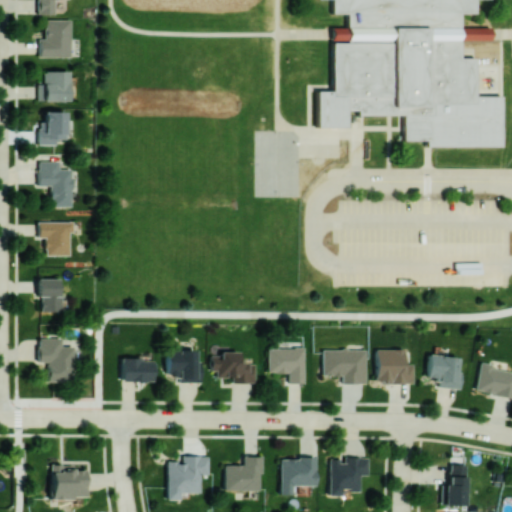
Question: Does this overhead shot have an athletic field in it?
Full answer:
Yes, there's an athletic field here.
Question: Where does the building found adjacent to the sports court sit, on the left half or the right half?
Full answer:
The building found adjacent to the sports court is on the right side of the image.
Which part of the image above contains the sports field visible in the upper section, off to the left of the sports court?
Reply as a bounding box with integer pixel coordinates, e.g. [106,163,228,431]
[106,40,253,305]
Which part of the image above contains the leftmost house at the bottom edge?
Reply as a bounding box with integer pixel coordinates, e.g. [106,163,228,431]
[51,465,93,500]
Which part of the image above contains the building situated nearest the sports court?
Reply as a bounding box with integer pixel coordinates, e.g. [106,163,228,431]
[315,0,506,148]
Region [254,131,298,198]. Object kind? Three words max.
sports court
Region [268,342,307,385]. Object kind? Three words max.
house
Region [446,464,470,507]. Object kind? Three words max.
house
